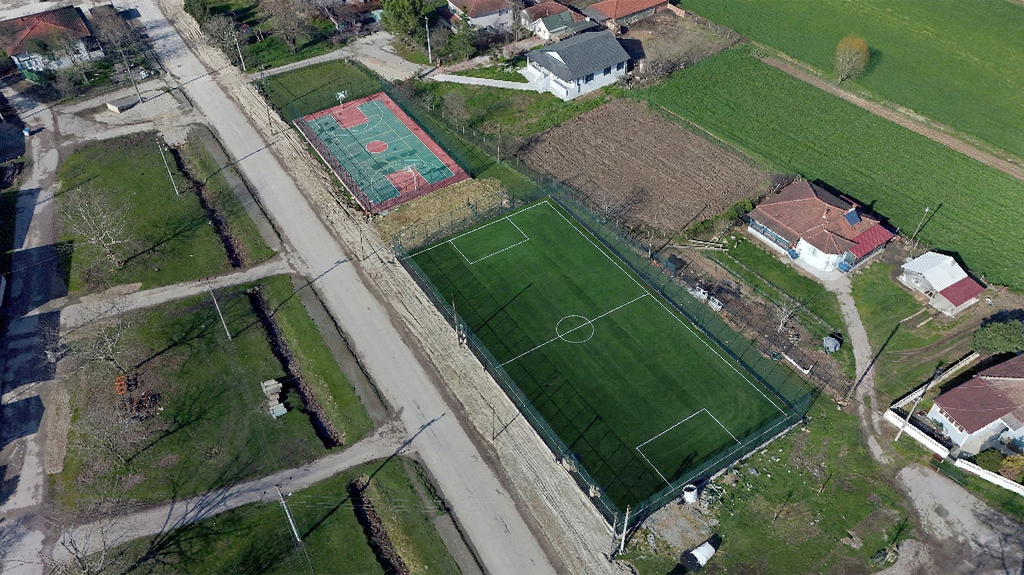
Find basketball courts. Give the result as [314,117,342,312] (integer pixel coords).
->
[292,91,471,214]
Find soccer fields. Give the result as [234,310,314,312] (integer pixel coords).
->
[397,198,799,533]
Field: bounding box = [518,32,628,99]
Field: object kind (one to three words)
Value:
house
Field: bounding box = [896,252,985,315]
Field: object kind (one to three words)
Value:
shed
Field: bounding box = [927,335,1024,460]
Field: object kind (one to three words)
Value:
house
